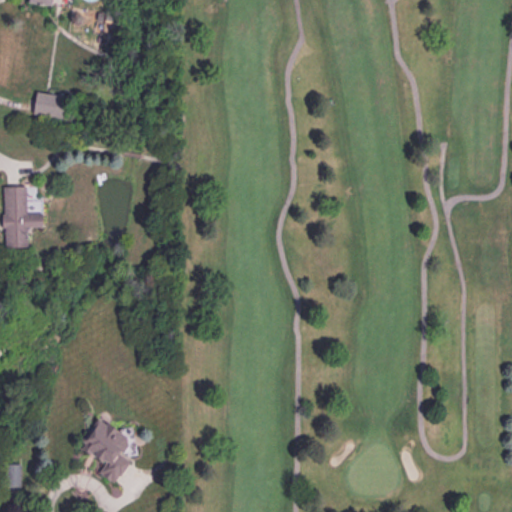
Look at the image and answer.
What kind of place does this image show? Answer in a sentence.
This looks like a golf course.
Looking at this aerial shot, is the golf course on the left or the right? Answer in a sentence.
The golf course sits on the right side.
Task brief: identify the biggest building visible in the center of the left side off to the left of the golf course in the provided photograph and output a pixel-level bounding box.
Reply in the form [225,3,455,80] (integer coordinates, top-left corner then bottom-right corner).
[2,186,44,249]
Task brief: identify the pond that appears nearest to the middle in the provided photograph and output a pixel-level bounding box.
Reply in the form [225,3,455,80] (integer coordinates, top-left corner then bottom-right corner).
[98,179,132,241]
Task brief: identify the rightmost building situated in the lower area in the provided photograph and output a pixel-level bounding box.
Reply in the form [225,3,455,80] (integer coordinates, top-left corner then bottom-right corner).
[88,420,131,482]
